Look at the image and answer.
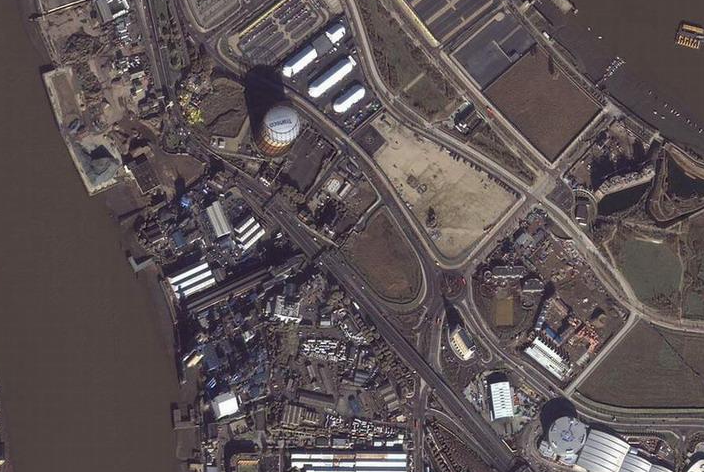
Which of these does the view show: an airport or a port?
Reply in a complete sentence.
It's a port.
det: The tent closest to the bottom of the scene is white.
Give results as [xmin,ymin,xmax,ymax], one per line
[332,89,363,116]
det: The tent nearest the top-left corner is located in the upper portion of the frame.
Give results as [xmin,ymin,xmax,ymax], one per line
[282,50,315,78]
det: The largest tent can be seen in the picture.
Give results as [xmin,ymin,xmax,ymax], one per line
[306,62,350,101]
